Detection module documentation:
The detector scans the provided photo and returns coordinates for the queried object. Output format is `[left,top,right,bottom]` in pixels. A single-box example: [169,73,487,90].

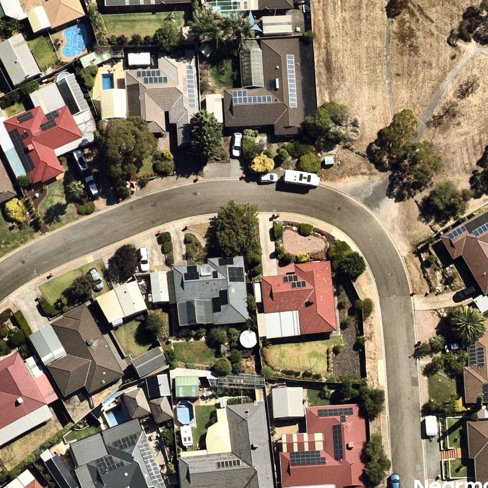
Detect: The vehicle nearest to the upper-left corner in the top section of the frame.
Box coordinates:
[73,148,88,173]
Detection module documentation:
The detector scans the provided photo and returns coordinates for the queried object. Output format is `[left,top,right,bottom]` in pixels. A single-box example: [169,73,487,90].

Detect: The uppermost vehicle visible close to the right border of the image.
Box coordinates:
[453,286,476,303]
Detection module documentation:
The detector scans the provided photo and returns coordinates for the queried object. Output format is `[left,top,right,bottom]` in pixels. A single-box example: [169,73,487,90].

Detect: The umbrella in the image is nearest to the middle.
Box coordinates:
[240,330,256,347]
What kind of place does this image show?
residential area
